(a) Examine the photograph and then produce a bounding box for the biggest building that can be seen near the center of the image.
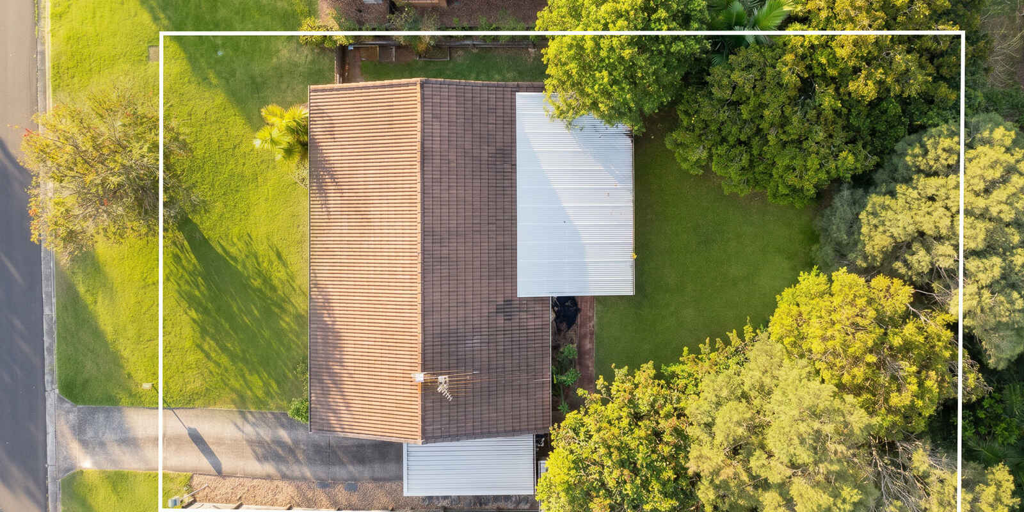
[306,78,554,445]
